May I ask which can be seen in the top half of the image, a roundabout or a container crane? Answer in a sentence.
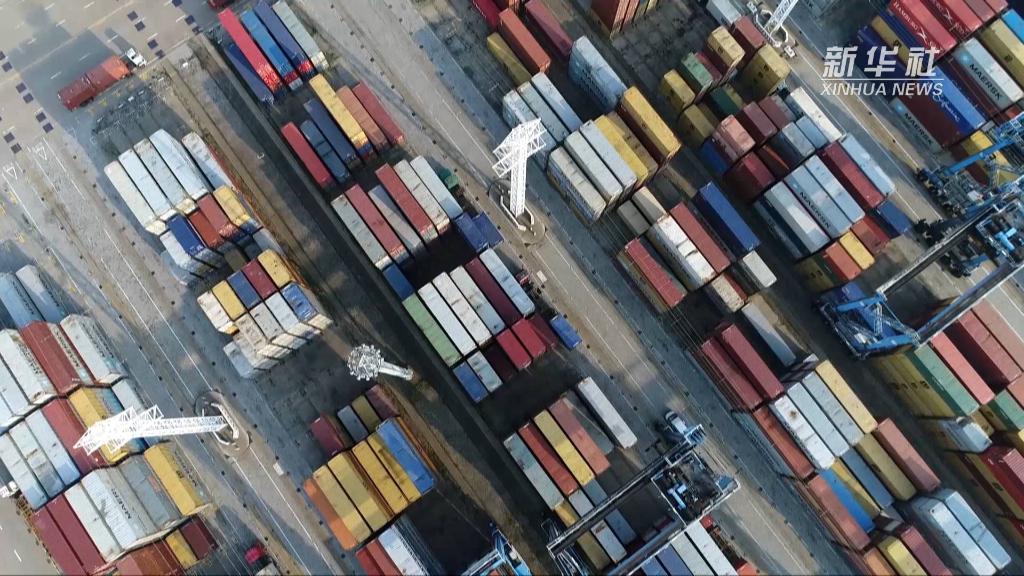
There is a container crane in the top half of the image.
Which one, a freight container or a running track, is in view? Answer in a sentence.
The image shows a freight container.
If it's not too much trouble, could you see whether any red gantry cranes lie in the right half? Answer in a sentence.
No, there is no red gantry crane in the right half.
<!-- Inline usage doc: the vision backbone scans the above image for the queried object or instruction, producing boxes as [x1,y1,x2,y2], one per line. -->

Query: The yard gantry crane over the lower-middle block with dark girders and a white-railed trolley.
[537,422,752,576]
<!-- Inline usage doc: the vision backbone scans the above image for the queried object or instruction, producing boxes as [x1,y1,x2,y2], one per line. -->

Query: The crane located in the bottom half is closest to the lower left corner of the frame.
[447,514,534,576]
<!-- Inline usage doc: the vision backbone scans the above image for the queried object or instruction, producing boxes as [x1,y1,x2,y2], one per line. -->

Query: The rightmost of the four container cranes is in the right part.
[924,93,1024,221]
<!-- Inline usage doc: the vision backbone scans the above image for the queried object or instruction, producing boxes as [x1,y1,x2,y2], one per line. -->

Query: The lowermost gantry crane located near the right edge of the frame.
[819,179,1024,359]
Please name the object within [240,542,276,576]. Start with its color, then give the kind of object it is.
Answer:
red truck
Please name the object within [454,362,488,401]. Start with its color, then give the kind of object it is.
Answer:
blue shipping container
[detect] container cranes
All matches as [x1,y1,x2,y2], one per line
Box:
[447,514,534,576]
[819,179,1024,359]
[537,422,752,576]
[924,93,1024,221]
